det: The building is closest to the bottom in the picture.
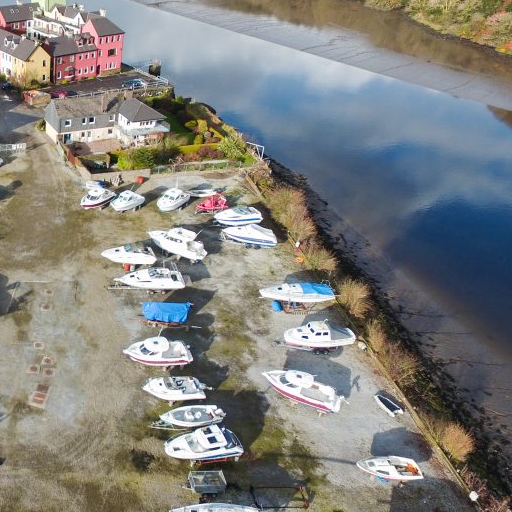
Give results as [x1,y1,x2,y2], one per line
[54,86,170,152]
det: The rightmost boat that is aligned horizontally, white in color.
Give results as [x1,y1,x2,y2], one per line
[358,457,424,487]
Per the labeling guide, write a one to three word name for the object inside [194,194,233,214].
boat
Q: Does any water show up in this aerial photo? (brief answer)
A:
Yes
